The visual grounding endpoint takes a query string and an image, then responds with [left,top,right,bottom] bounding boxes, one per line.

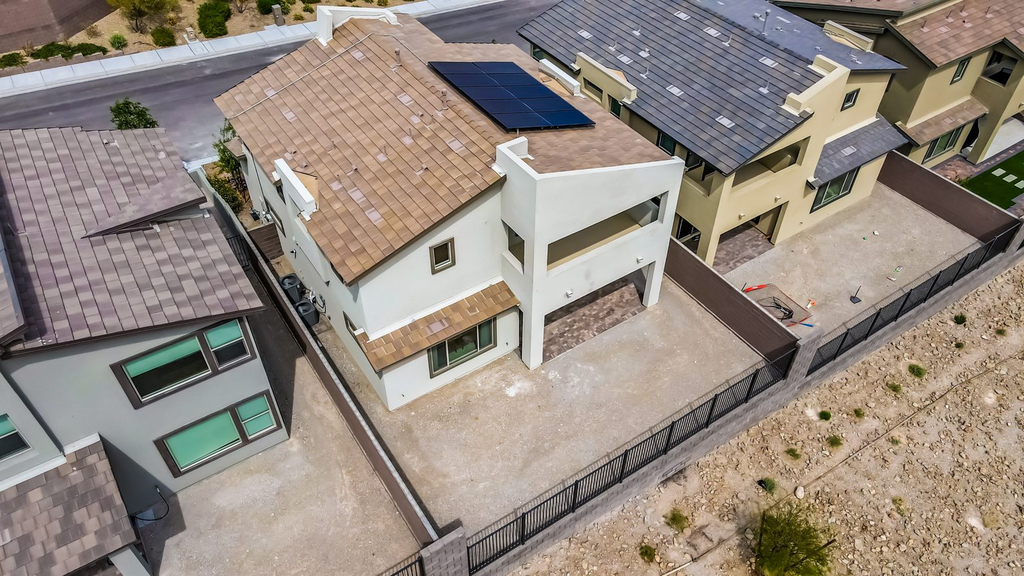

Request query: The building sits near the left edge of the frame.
[0,126,288,576]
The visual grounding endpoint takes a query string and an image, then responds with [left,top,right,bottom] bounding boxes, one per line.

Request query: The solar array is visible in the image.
[427,62,595,136]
